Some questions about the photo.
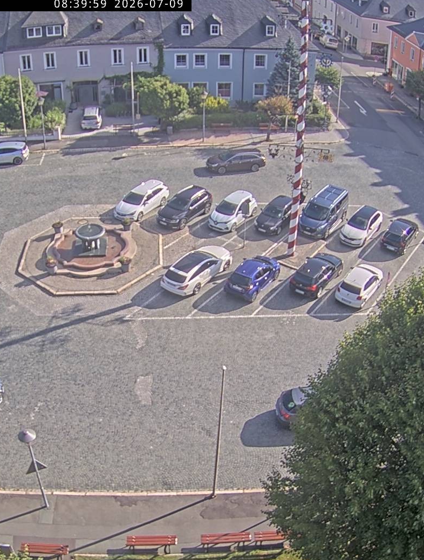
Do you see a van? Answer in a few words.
Yes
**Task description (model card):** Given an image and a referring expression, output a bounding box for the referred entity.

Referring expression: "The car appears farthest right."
[379,217,421,256]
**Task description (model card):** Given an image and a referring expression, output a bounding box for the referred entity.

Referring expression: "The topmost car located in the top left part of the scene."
[81,104,103,126]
